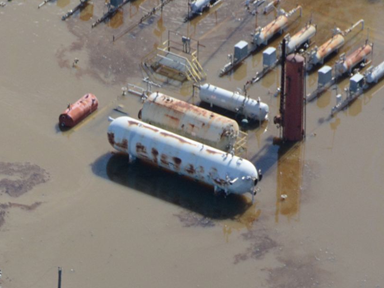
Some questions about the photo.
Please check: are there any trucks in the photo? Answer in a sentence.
No, the frame has no truck in it.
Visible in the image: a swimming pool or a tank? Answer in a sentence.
I can see a tank in this picture.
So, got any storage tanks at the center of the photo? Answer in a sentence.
Yes, a storage tank appears at the center of the photo.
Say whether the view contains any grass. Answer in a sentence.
No, there is no grass in the image.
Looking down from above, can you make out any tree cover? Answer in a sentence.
No, tree cover can't be seen anywhere here.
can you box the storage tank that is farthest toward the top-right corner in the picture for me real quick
[194,83,270,126]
